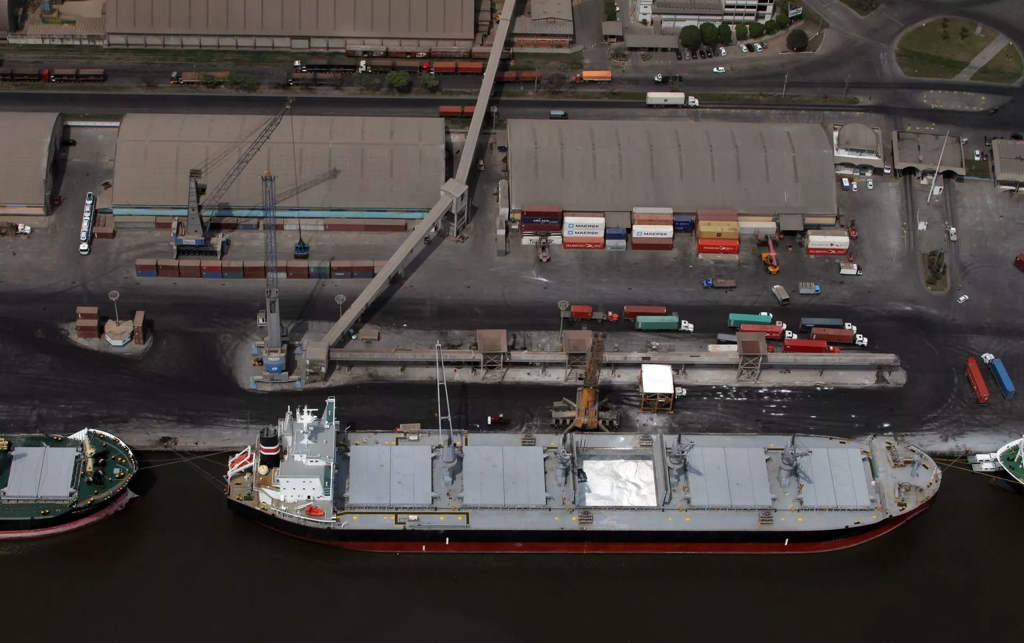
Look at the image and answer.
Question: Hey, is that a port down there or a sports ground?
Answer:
port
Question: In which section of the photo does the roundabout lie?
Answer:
top right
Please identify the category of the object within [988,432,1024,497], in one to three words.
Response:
ship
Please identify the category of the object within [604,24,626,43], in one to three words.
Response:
shed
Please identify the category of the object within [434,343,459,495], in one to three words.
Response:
crane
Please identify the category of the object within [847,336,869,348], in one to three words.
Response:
vehicle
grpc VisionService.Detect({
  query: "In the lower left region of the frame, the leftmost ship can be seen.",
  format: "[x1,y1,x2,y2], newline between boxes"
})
[0,429,143,537]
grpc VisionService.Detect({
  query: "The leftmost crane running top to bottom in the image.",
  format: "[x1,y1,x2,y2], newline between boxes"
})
[249,170,303,384]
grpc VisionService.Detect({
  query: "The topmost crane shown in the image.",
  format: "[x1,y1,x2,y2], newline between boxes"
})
[167,98,293,259]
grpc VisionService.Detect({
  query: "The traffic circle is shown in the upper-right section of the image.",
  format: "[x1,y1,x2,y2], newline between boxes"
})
[896,15,1024,83]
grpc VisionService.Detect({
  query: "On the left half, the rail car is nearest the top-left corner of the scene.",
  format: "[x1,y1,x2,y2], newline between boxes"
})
[343,45,383,59]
